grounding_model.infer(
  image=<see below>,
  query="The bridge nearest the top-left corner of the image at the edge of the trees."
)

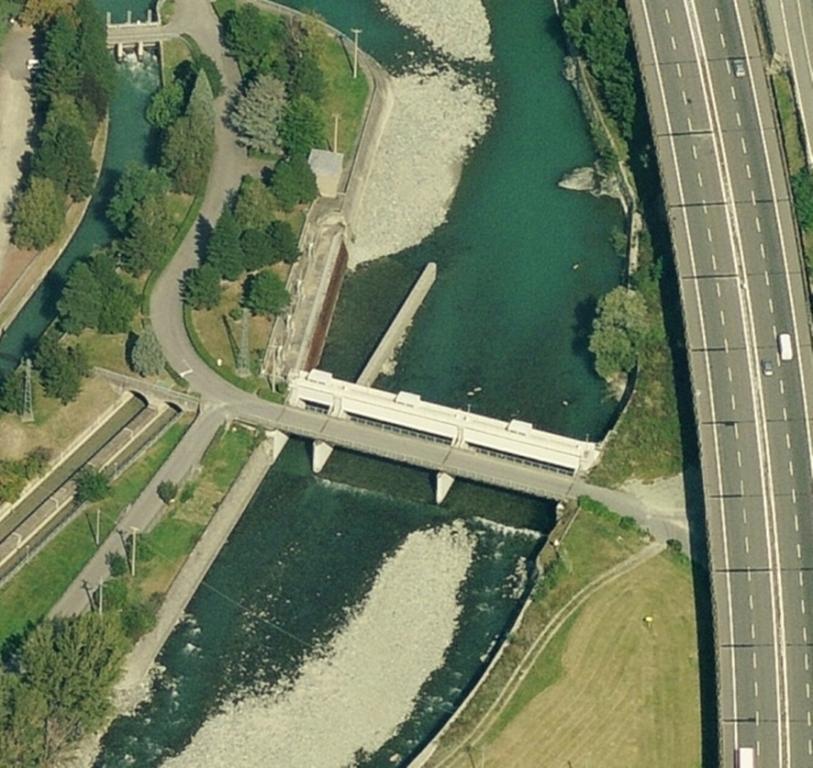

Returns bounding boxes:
[103,12,182,73]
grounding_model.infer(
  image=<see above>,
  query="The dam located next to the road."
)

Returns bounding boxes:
[275,362,599,485]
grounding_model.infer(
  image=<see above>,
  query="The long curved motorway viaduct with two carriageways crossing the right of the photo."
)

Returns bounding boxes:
[624,0,813,768]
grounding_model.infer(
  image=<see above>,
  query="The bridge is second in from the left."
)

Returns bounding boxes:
[260,405,577,504]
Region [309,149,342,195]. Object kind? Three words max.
shed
